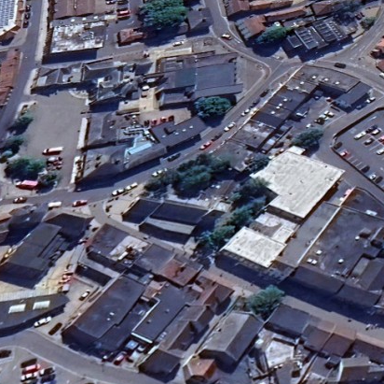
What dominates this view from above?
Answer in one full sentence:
The scene is dominated by buildings.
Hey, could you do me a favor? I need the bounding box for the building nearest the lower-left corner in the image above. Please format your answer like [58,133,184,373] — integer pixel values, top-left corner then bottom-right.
[0,294,74,336]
